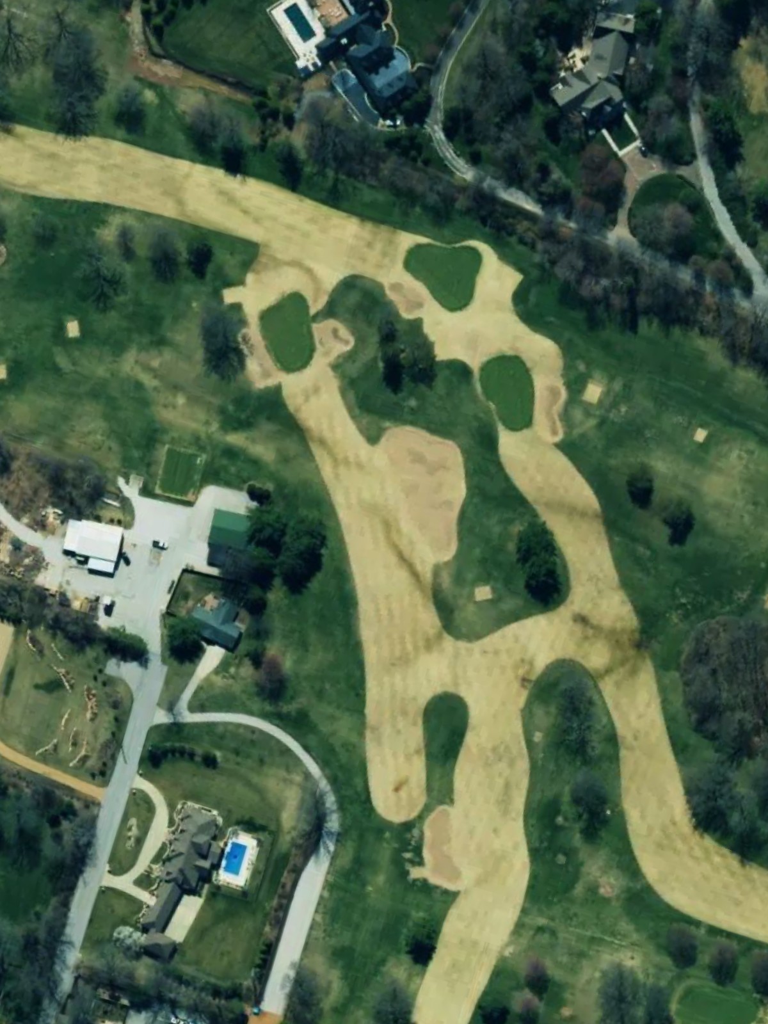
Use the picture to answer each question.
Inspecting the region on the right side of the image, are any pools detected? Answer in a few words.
No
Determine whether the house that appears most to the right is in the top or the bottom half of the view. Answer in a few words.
top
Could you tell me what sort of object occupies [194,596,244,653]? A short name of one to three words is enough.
house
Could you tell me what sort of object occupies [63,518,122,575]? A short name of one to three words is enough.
shed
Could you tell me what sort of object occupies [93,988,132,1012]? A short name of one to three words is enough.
house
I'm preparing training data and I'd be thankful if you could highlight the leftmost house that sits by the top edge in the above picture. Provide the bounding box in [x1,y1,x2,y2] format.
[313,0,413,97]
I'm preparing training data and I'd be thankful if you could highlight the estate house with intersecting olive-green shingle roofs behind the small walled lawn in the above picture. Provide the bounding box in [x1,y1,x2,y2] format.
[547,0,641,116]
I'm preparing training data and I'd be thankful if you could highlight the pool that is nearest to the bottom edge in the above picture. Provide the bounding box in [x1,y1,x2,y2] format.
[216,832,258,886]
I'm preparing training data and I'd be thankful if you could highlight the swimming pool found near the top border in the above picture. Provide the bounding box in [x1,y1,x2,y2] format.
[270,0,325,70]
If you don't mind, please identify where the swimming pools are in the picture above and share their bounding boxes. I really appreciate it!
[216,832,258,886]
[270,0,325,70]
